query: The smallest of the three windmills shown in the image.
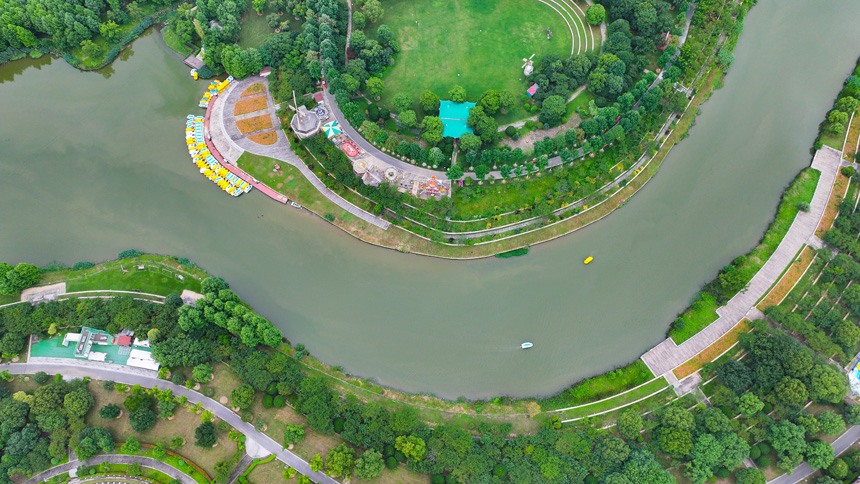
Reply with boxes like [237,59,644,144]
[522,52,536,79]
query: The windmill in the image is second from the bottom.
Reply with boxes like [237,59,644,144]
[285,89,321,139]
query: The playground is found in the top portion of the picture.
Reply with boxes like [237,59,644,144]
[412,173,452,198]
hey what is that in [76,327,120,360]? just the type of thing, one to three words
building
